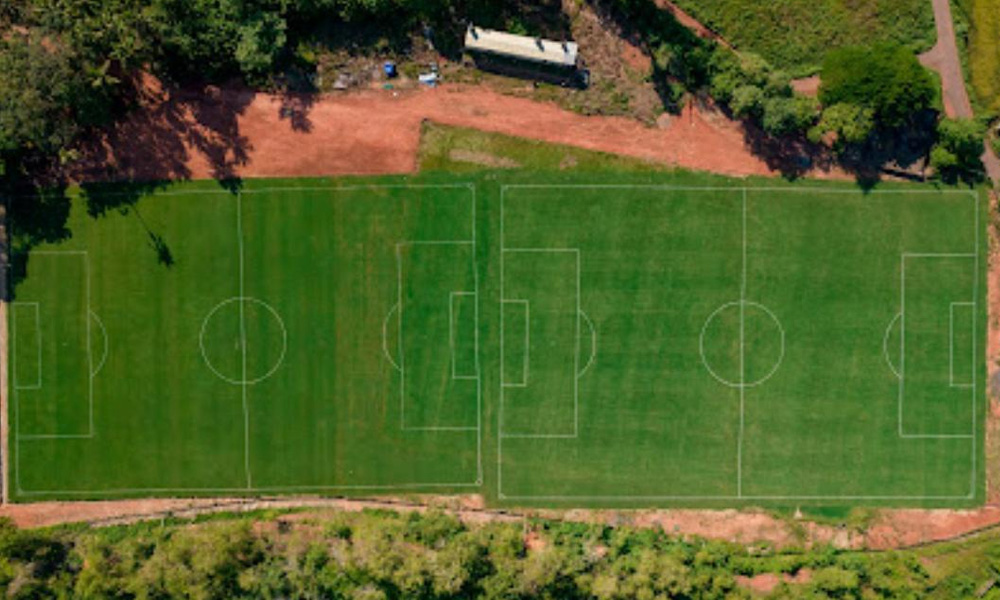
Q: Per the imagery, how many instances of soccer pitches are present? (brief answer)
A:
2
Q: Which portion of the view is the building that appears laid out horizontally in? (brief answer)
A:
top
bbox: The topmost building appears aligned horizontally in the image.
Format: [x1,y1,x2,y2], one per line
[463,23,580,81]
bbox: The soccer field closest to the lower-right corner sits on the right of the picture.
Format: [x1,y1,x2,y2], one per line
[488,170,989,519]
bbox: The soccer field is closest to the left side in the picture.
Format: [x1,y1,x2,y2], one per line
[8,171,488,507]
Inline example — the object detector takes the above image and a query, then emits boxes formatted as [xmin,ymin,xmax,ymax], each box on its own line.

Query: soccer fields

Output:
[488,170,989,519]
[8,171,488,507]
